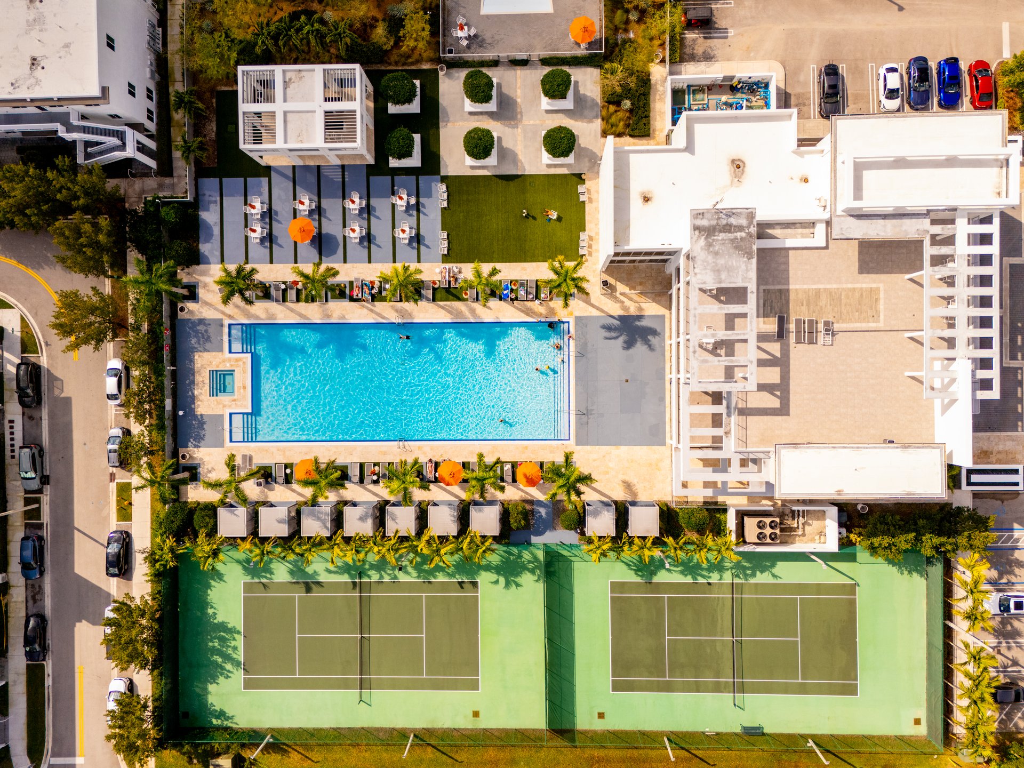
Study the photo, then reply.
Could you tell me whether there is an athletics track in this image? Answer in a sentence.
No, no athletics track is visible in the scene.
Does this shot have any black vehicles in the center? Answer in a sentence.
No, there is no black vehicle in the center.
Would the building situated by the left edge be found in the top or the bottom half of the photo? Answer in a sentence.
The building situated by the left edge sits in the top half of the picture.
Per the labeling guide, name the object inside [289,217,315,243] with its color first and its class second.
orange umbrella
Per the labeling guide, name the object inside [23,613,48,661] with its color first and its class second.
black car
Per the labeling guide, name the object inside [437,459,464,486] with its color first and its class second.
orange umbrella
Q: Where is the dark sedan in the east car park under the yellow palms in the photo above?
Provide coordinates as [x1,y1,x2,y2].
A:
[989,682,1024,705]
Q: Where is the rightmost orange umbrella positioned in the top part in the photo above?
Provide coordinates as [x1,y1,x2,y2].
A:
[569,17,596,45]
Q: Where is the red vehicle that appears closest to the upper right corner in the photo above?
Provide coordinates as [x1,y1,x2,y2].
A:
[966,60,994,111]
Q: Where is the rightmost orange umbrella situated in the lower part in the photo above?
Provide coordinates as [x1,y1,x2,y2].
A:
[515,460,542,488]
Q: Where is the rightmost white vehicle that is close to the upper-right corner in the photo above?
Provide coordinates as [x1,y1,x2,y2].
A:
[876,63,903,113]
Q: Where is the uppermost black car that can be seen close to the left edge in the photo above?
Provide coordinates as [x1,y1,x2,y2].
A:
[15,363,42,407]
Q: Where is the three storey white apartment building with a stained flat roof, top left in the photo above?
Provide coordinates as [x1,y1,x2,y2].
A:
[0,0,161,169]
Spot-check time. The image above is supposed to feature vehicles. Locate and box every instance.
[905,56,933,110]
[15,363,42,407]
[20,535,45,578]
[105,427,130,468]
[103,359,128,404]
[876,63,903,113]
[106,676,132,724]
[935,57,963,109]
[683,3,711,26]
[818,59,844,118]
[23,613,48,661]
[19,446,45,490]
[105,530,130,577]
[989,682,1024,705]
[966,60,994,111]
